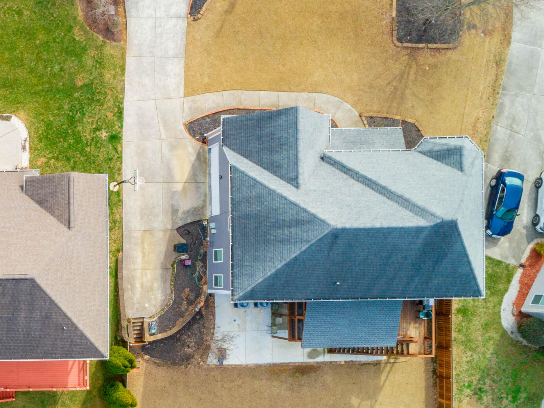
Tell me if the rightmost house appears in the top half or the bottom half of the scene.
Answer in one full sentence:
It is in the bottom half that the rightmost house appears.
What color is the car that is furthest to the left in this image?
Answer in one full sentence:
From above, the car that is furthest to the left appears blue.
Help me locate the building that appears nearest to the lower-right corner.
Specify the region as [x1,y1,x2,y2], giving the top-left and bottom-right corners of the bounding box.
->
[518,261,544,319]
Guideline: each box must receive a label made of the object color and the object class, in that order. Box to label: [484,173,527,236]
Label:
blue car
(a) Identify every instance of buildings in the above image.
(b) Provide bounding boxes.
[518,261,544,319]
[0,170,109,360]
[204,107,487,348]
